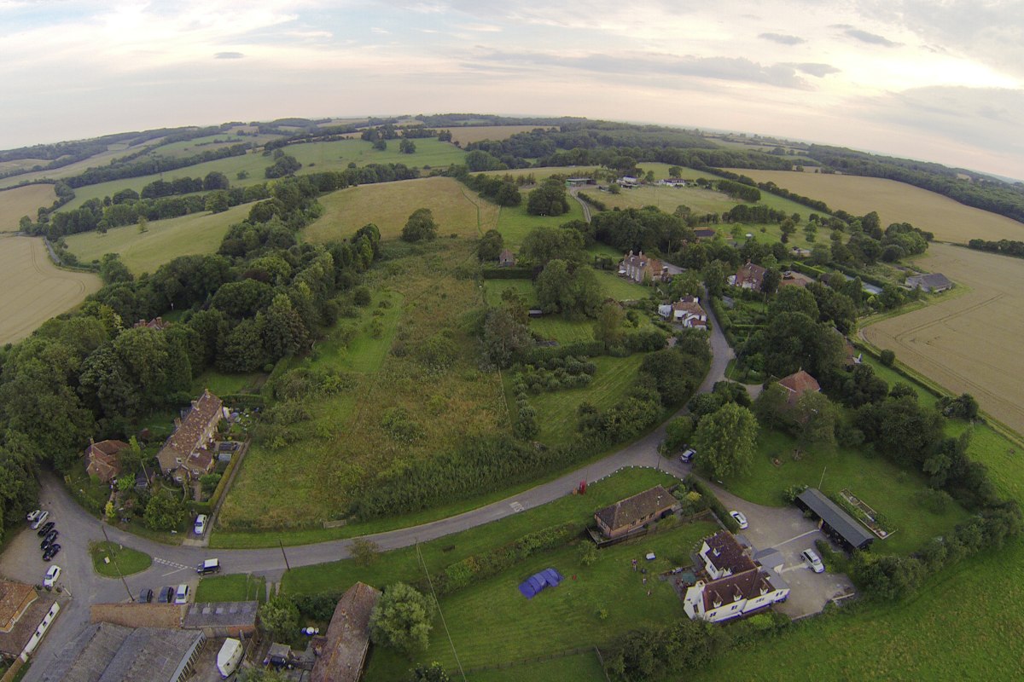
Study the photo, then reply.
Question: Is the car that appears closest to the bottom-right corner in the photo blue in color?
No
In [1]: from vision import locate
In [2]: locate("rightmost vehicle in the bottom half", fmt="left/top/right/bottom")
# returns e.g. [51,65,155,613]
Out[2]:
[803,548,823,568]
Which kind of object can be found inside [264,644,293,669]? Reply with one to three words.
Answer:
shed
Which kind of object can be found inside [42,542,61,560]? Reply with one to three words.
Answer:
car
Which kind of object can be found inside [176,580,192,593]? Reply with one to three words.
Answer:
vehicle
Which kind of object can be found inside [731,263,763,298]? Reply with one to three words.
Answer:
house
